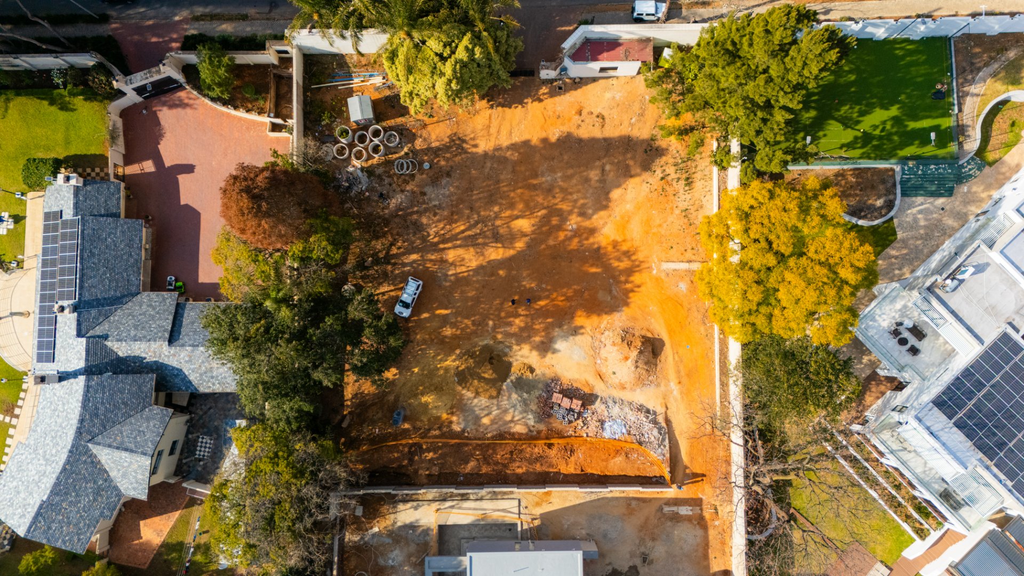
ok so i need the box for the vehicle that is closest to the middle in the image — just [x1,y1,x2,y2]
[392,274,424,321]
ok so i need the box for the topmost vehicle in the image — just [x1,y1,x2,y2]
[634,3,667,22]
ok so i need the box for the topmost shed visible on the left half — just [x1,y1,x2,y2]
[347,95,378,128]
